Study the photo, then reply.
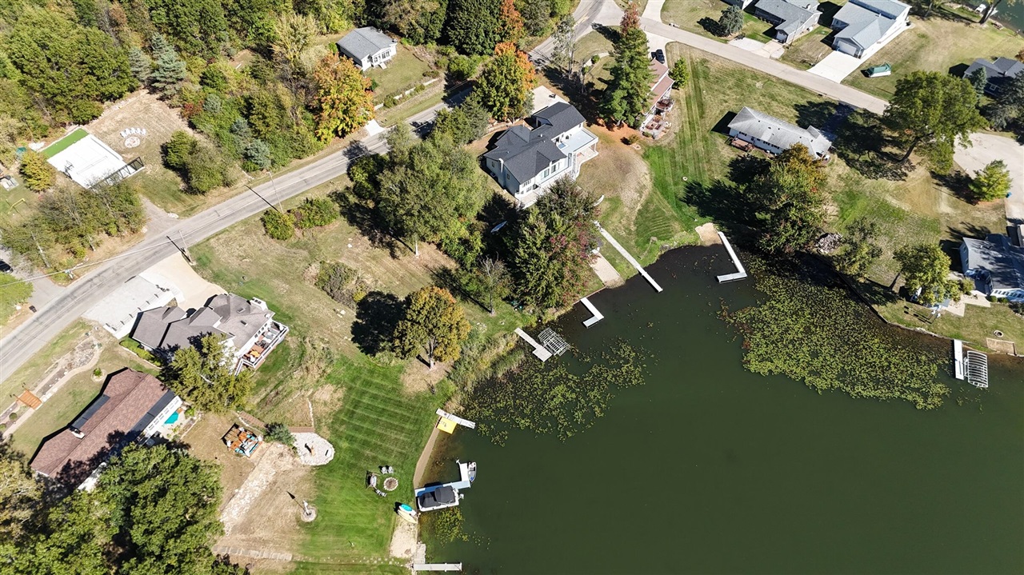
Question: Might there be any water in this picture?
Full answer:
Yes, water shows up in the scene.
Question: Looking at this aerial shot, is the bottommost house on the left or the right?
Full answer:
It is on the left.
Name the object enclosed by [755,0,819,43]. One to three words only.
house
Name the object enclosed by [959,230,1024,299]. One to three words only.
house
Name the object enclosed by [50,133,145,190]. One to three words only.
sports court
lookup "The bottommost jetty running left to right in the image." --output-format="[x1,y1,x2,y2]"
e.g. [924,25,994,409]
[413,562,462,574]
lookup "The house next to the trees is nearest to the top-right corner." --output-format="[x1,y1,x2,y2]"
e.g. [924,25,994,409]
[964,54,1024,101]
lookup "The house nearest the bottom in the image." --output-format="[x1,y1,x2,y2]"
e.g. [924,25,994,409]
[30,366,172,483]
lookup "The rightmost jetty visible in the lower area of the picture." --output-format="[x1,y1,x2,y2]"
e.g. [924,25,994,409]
[951,339,964,382]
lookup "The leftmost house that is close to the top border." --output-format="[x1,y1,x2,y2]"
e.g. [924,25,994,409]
[336,22,396,72]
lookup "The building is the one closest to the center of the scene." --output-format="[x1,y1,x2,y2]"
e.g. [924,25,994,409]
[484,102,599,205]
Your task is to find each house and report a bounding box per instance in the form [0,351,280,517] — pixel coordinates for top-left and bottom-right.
[718,0,751,16]
[728,105,830,163]
[484,102,599,205]
[755,0,819,43]
[336,22,396,72]
[133,293,291,376]
[964,54,1024,101]
[833,0,915,57]
[30,366,172,483]
[959,230,1024,299]
[639,60,675,133]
